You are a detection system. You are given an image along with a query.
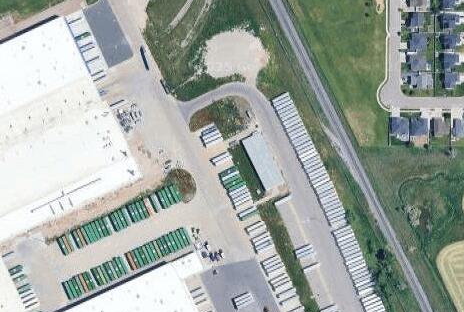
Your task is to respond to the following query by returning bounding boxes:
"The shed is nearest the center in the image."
[241,129,284,193]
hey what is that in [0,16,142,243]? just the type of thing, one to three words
warehouse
